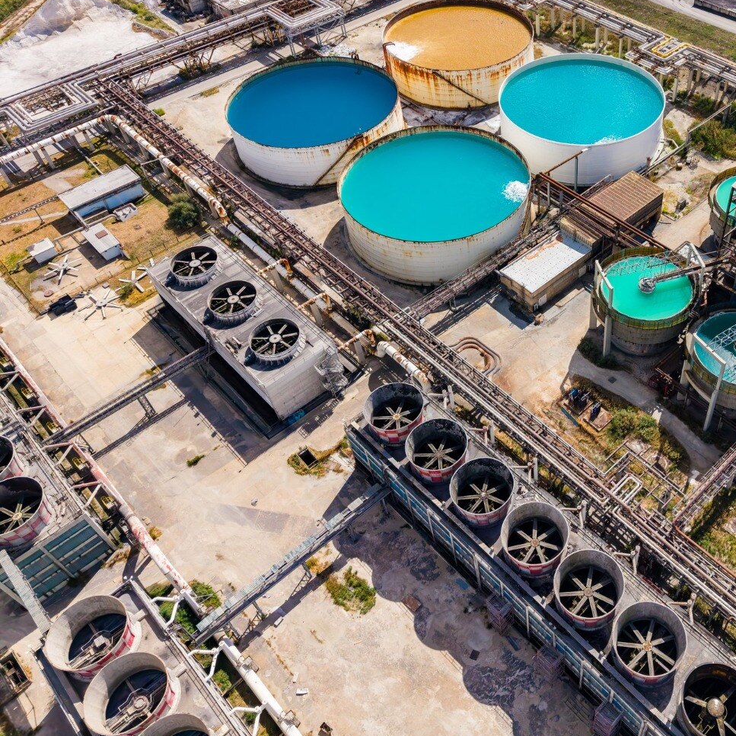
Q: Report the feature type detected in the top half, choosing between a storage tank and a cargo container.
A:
storage tank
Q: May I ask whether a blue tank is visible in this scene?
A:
Yes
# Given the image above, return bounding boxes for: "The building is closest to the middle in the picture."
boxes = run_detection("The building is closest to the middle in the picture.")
[497,230,594,313]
